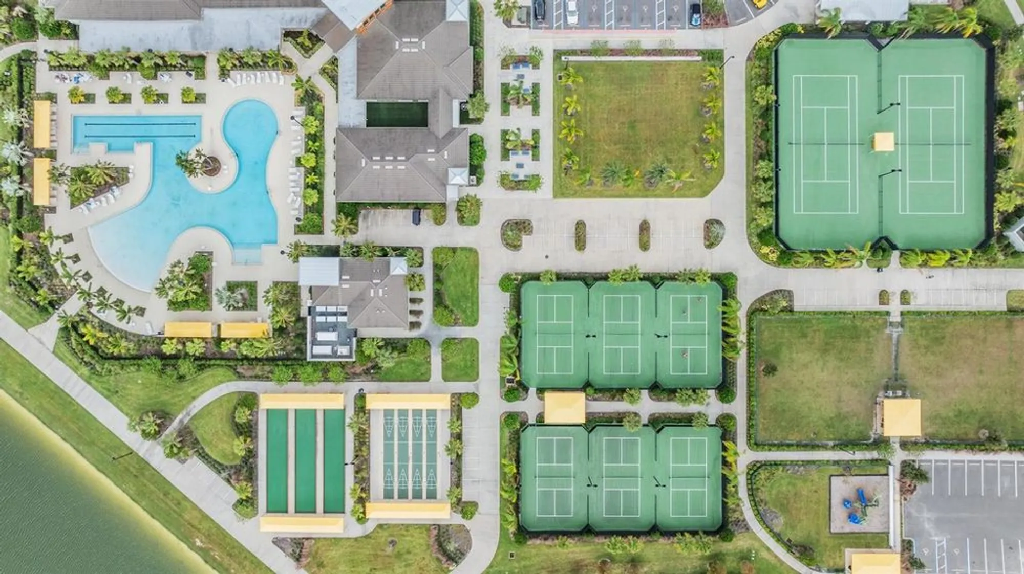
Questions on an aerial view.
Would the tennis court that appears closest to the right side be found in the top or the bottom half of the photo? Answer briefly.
top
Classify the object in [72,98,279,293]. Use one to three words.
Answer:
swimming pool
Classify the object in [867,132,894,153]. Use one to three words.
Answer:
building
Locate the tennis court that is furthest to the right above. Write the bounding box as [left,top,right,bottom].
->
[880,39,987,249]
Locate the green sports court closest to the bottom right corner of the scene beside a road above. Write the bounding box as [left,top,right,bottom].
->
[656,428,722,531]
